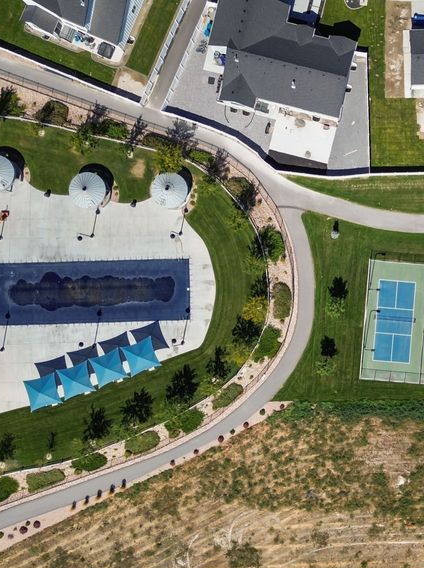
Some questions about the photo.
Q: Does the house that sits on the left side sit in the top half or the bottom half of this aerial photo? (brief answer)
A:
top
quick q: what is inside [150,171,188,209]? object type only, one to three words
umbrella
